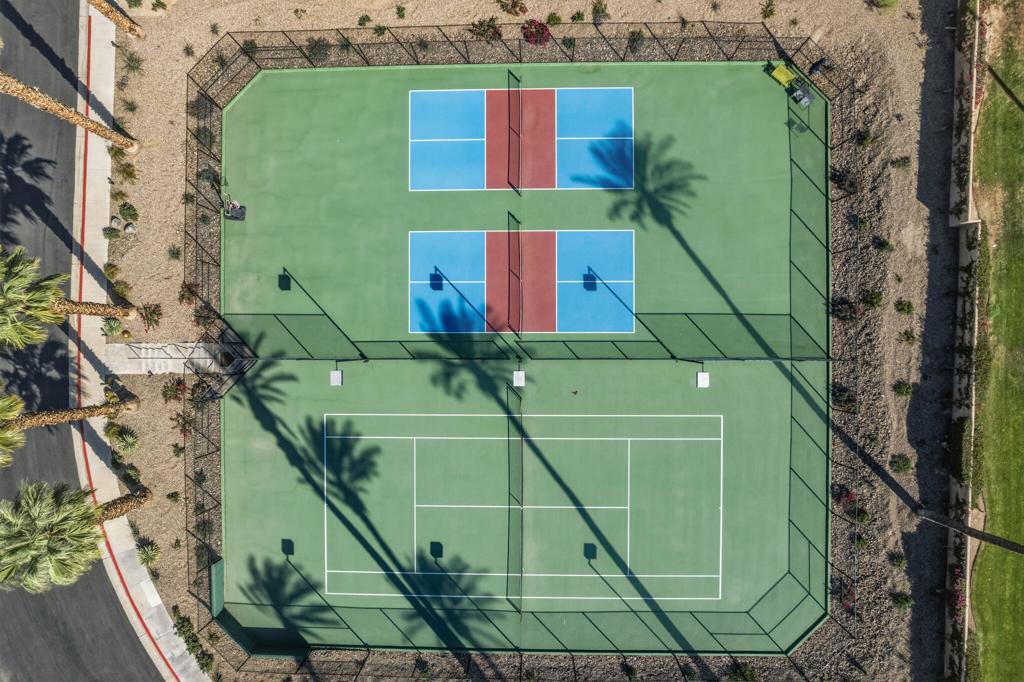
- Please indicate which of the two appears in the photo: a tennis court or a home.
tennis court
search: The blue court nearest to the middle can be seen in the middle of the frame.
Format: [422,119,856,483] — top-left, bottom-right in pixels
[408,230,635,333]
